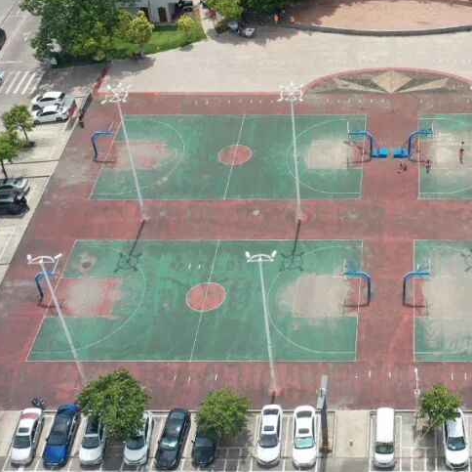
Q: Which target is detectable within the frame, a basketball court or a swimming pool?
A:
basketball court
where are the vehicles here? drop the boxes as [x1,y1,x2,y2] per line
[290,410,318,466]
[370,406,398,467]
[42,411,80,467]
[29,93,67,109]
[0,191,32,213]
[0,29,8,47]
[7,411,47,467]
[74,422,108,470]
[442,414,471,470]
[0,176,36,196]
[121,415,155,468]
[254,410,283,465]
[156,414,190,470]
[189,431,218,468]
[29,106,74,125]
